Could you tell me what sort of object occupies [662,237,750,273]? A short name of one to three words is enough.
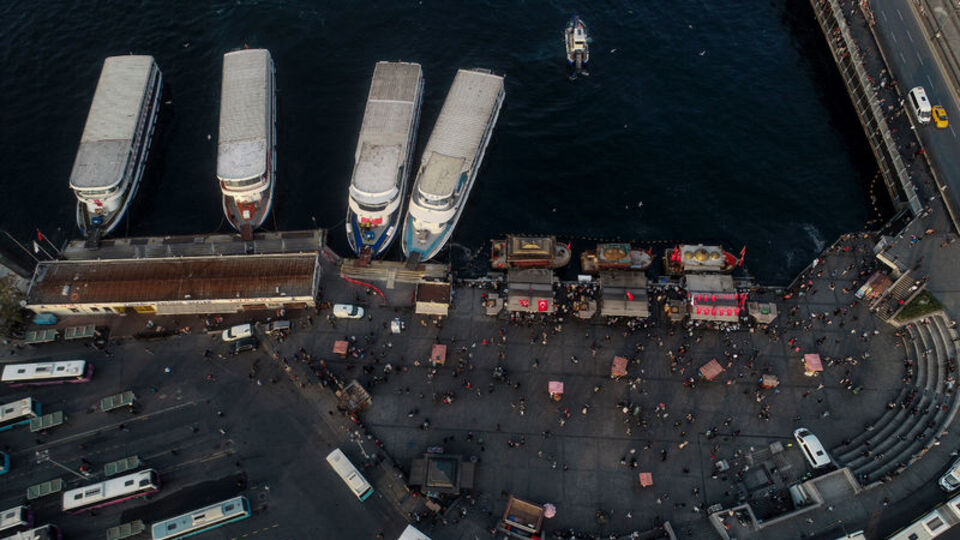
boat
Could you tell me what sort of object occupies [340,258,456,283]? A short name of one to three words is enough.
pier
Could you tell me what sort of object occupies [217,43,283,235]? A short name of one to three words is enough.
ship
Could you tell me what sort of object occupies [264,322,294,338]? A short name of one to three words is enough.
car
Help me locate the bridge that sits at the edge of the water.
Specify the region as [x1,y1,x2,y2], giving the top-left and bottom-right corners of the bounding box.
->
[810,0,960,230]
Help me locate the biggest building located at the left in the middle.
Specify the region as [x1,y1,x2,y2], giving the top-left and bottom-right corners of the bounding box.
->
[23,253,321,322]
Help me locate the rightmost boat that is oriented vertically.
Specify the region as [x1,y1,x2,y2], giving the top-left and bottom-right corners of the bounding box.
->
[565,16,590,69]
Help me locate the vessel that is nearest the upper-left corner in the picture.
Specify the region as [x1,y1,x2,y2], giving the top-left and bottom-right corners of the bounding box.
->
[69,50,164,241]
